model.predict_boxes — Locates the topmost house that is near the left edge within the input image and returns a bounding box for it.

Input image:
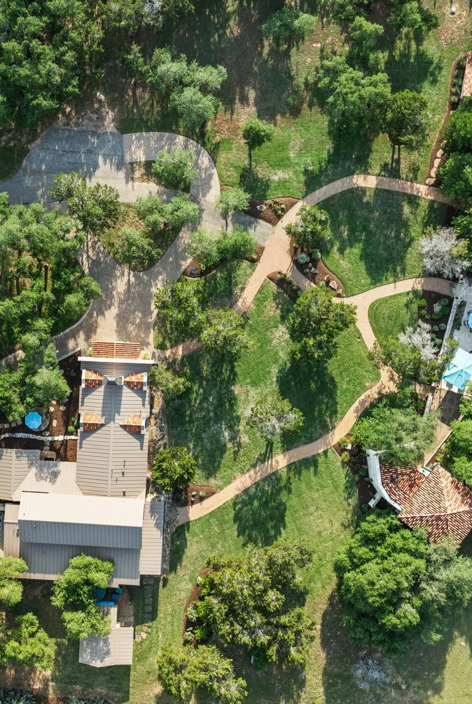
[0,341,165,587]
